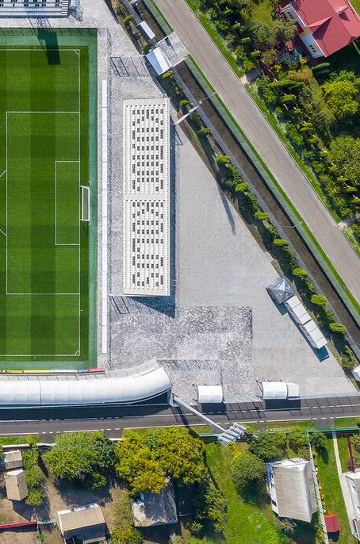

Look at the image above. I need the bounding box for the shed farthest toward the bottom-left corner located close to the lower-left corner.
[4,468,25,500]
